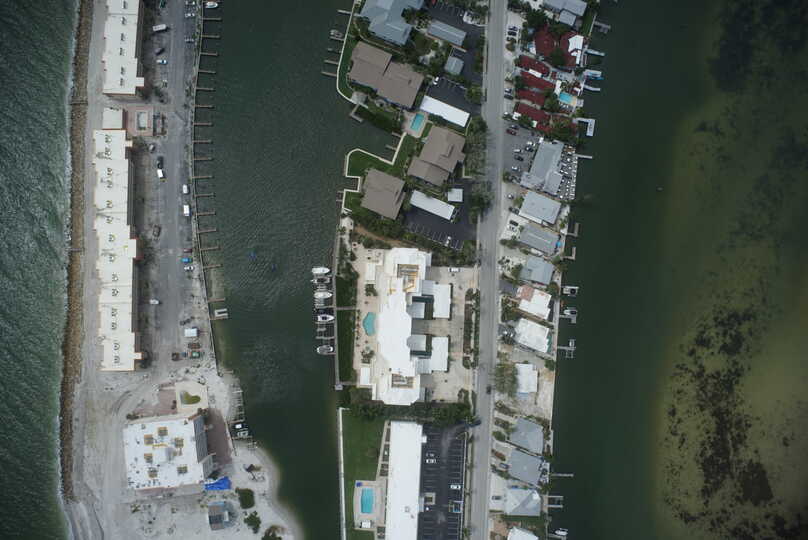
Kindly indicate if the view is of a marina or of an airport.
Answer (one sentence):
The picture captures a marina.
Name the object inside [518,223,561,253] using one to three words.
house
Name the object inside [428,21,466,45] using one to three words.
building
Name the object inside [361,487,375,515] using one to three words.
swimming pool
